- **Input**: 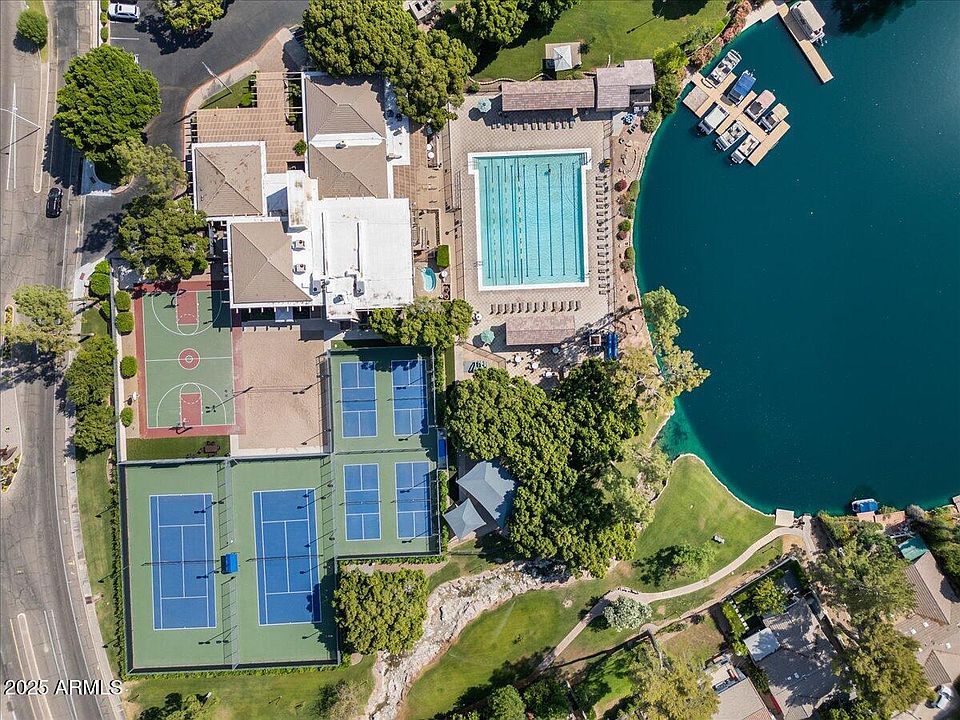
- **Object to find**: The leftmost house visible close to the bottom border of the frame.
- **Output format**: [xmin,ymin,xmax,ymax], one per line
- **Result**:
[716,673,775,720]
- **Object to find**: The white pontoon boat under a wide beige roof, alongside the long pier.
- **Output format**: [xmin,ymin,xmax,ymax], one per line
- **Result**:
[792,0,825,42]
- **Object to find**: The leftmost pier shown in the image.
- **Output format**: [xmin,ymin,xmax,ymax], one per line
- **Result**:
[682,71,790,166]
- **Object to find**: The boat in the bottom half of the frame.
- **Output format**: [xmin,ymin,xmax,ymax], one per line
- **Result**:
[850,498,880,514]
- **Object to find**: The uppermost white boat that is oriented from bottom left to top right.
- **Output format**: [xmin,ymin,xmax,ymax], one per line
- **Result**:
[704,50,743,87]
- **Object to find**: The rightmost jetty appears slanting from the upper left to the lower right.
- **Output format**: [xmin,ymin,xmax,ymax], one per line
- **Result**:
[778,4,835,83]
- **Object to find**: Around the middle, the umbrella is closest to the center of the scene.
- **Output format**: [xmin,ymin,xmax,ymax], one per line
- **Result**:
[480,328,495,343]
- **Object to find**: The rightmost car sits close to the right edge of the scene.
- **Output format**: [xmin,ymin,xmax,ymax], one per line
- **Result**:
[931,690,953,713]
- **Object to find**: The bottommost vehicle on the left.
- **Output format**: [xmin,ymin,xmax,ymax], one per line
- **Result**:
[42,186,61,217]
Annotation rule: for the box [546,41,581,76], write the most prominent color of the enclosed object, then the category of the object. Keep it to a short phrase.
white gazebo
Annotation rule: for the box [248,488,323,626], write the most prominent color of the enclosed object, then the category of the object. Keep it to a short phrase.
blue tennis court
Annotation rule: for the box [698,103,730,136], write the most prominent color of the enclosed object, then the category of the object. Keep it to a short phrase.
white boat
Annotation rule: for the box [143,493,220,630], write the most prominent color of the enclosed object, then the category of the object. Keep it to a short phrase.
blue tennis court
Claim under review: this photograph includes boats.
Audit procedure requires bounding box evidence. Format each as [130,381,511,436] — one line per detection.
[744,85,781,121]
[758,100,795,133]
[730,133,761,164]
[728,69,759,103]
[850,498,880,514]
[715,120,747,150]
[792,0,825,42]
[704,50,743,87]
[698,103,730,136]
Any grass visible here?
Yes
